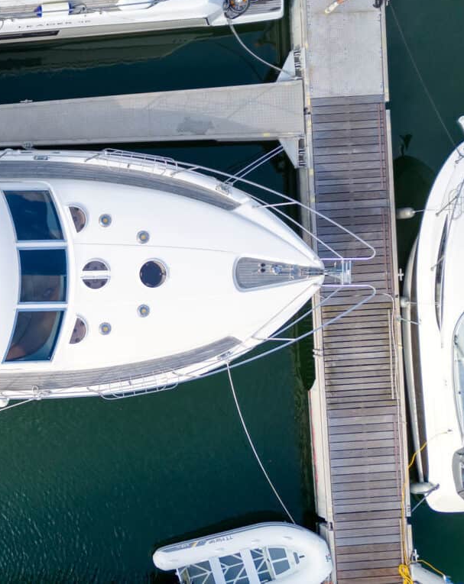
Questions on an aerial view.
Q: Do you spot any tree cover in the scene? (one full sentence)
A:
No, there's no tree cover in this view.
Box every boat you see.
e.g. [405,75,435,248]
[403,117,464,513]
[0,147,377,400]
[0,0,283,42]
[159,524,330,584]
